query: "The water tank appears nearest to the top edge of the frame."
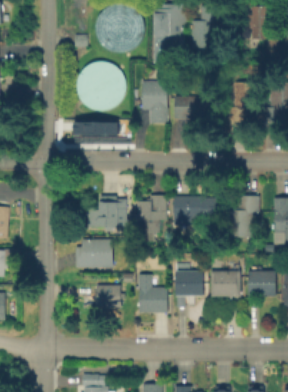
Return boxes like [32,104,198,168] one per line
[96,4,145,54]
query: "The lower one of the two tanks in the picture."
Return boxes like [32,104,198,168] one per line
[77,61,126,111]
